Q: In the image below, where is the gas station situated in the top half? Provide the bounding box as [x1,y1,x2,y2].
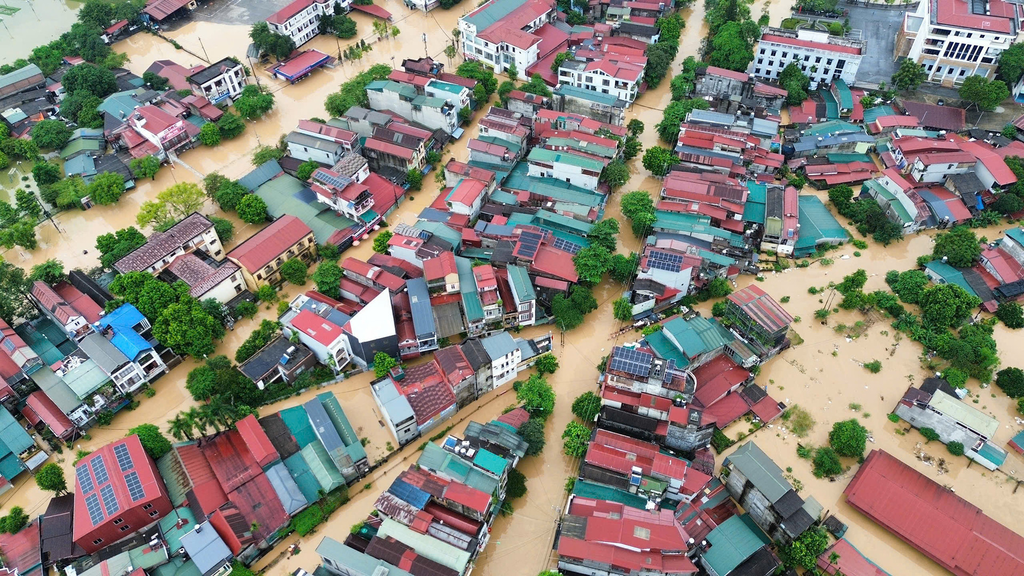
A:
[266,48,338,92]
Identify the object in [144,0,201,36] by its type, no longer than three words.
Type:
shed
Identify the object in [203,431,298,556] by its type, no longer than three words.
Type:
building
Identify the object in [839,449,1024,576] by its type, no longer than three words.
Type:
warehouse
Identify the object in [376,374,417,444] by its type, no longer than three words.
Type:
house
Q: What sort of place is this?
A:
residential area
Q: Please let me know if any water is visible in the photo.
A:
Yes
